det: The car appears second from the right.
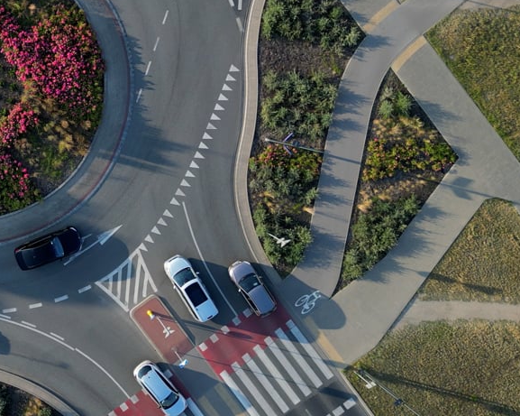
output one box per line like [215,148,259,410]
[163,254,219,322]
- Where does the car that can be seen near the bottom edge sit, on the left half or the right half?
left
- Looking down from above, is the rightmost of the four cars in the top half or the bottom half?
bottom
